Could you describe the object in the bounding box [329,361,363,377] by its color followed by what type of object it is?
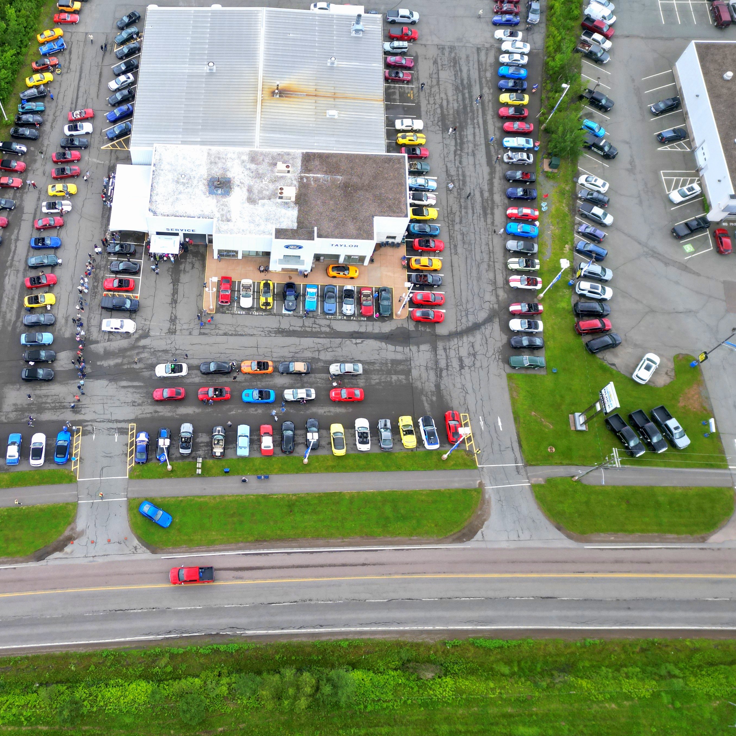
white car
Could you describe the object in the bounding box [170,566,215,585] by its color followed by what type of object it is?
red vehicle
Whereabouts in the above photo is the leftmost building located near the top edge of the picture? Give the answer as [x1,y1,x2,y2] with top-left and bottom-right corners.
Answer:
[129,1,412,275]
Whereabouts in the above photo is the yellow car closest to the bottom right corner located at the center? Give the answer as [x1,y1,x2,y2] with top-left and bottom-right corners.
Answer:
[400,416,416,449]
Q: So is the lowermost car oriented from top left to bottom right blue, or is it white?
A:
blue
